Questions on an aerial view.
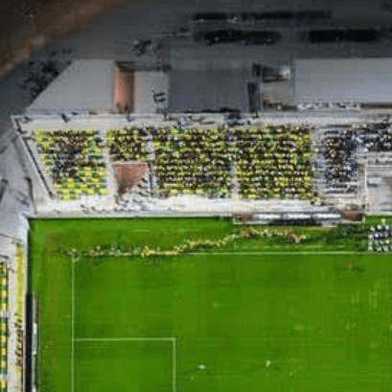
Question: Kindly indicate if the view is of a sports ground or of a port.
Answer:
sports ground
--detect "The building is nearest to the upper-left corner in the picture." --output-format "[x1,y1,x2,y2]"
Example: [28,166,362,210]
[29,59,118,115]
